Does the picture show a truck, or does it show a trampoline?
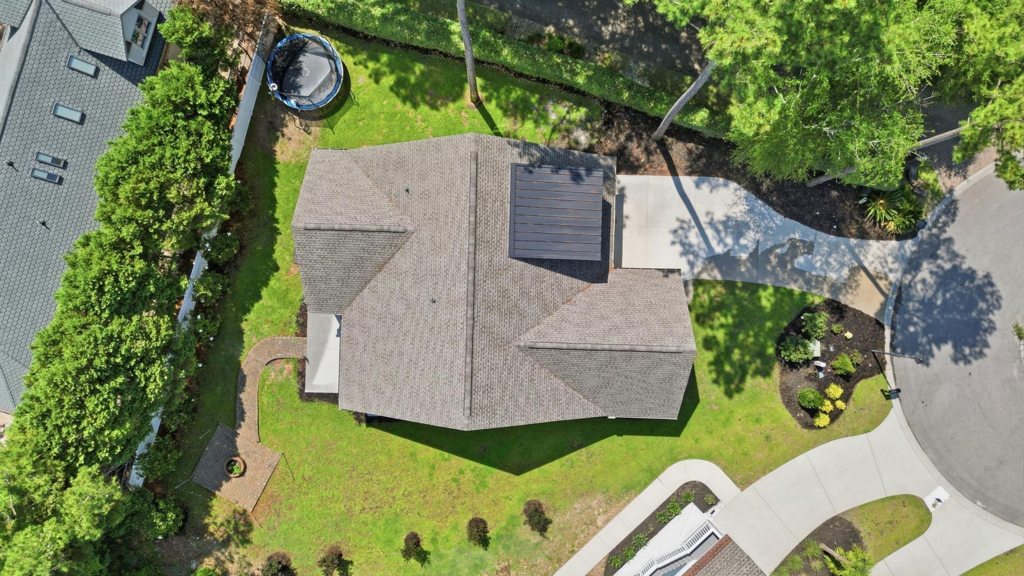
trampoline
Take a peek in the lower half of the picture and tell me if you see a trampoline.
No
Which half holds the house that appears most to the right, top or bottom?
bottom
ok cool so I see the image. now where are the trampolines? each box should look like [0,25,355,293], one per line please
[258,25,347,114]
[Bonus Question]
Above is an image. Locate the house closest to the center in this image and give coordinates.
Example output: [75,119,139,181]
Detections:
[291,132,696,431]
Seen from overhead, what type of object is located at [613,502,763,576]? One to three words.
house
